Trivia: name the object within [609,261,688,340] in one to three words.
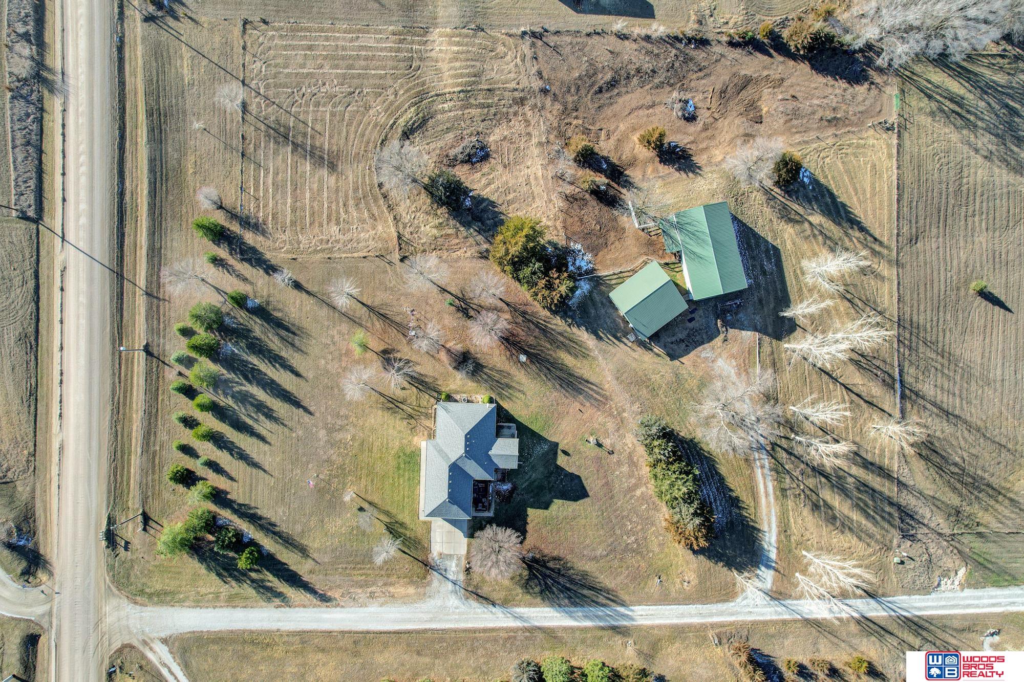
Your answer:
barn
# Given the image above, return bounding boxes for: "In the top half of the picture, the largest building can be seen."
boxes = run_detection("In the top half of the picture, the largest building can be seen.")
[673,201,748,300]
